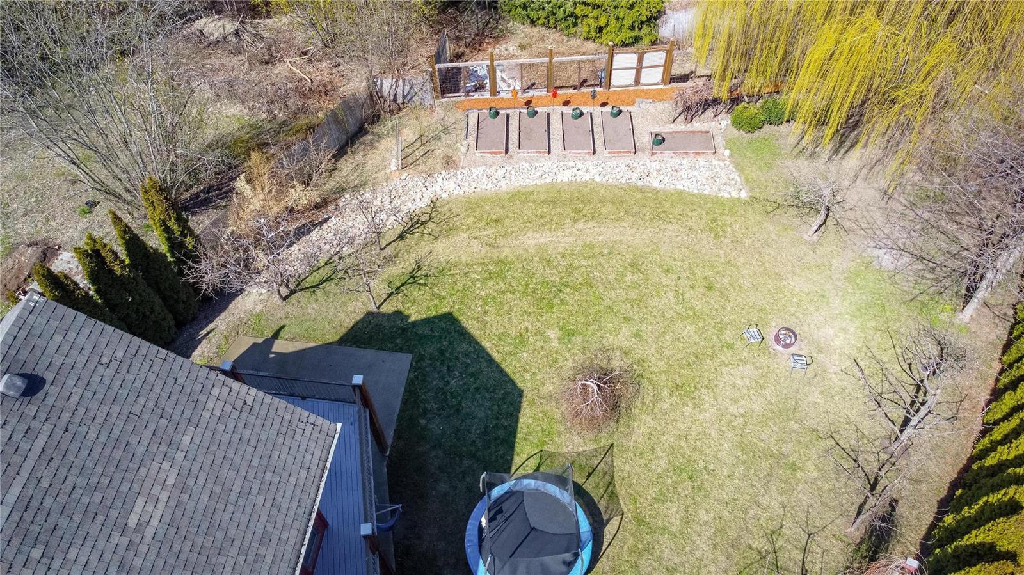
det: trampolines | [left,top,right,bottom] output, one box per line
[464,466,595,575]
